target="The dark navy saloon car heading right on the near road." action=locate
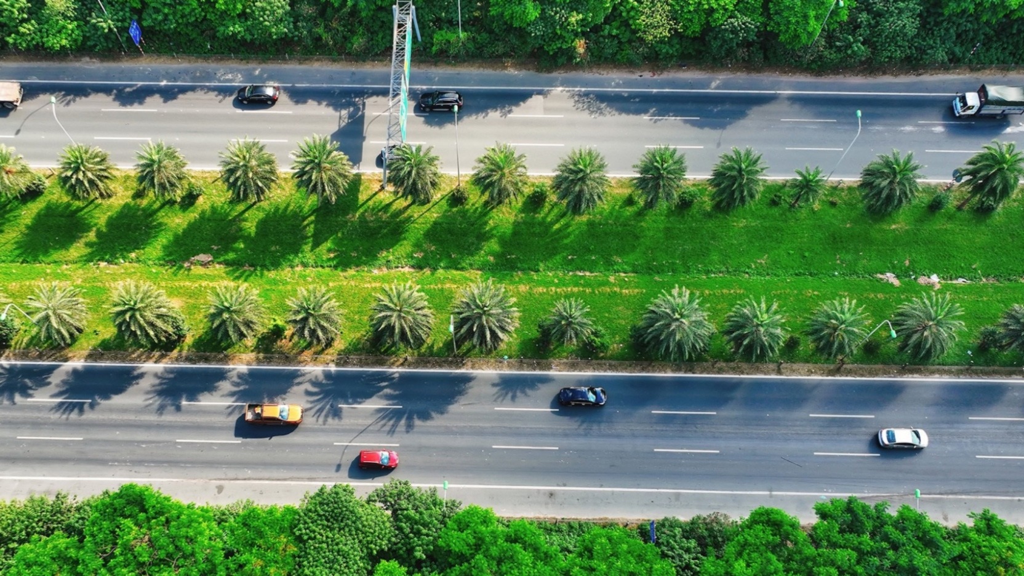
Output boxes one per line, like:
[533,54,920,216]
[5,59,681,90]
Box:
[559,386,607,408]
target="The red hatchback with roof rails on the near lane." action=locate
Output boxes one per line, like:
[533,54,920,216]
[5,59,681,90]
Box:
[359,448,400,471]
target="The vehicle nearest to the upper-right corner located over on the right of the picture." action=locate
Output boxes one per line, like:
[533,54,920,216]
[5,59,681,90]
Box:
[950,88,1024,120]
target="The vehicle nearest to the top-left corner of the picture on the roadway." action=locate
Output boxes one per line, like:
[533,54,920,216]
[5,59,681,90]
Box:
[0,82,27,113]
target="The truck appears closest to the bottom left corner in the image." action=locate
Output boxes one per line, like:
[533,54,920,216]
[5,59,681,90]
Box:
[243,403,304,427]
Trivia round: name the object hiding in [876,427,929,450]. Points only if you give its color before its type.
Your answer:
white car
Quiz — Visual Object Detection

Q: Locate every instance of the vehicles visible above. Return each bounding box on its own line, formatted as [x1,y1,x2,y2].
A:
[237,85,282,106]
[359,448,400,471]
[950,88,1024,120]
[559,386,607,408]
[0,82,27,113]
[243,403,304,427]
[420,92,464,114]
[876,427,929,450]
